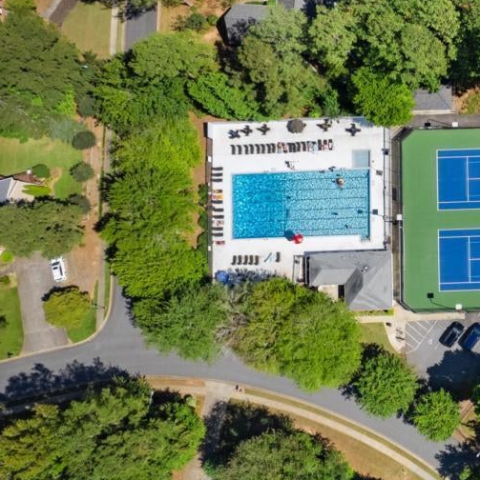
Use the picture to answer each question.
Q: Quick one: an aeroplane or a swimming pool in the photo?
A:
swimming pool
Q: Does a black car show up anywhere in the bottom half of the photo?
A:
Yes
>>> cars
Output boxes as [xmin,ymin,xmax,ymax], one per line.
[48,255,68,285]
[442,320,465,350]
[462,322,480,352]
